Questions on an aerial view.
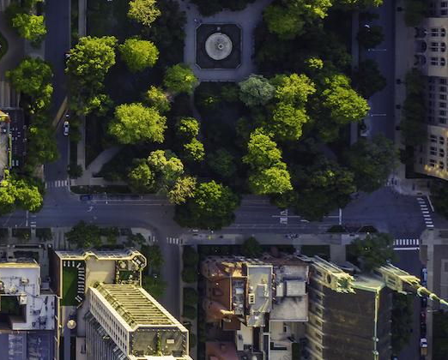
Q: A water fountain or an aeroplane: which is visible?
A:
water fountain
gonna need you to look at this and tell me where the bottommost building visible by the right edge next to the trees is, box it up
[273,242,448,360]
